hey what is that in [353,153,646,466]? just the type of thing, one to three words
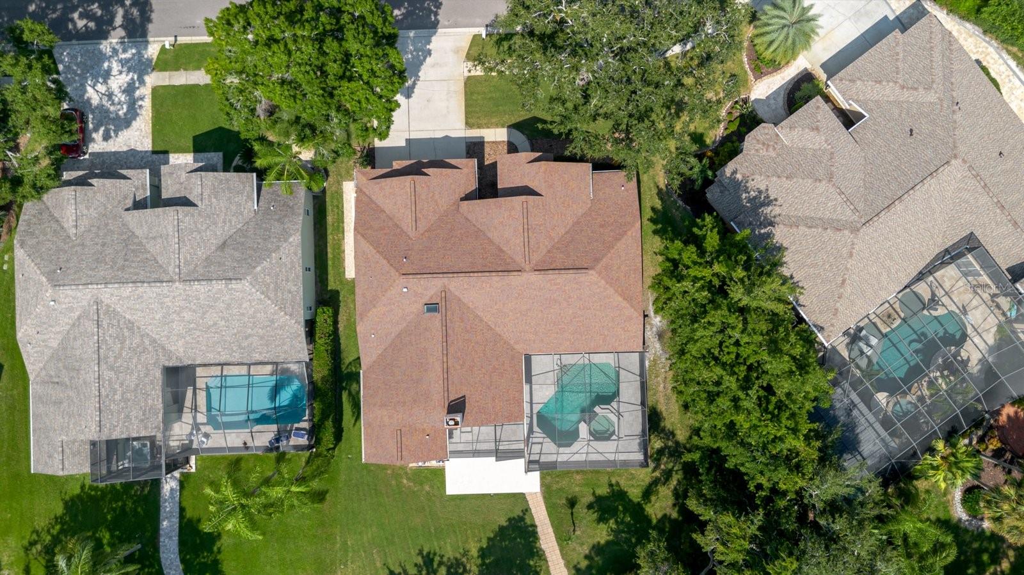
house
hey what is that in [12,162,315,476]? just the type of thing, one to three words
house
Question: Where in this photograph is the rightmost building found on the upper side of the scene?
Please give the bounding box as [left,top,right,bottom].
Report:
[704,12,1024,358]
